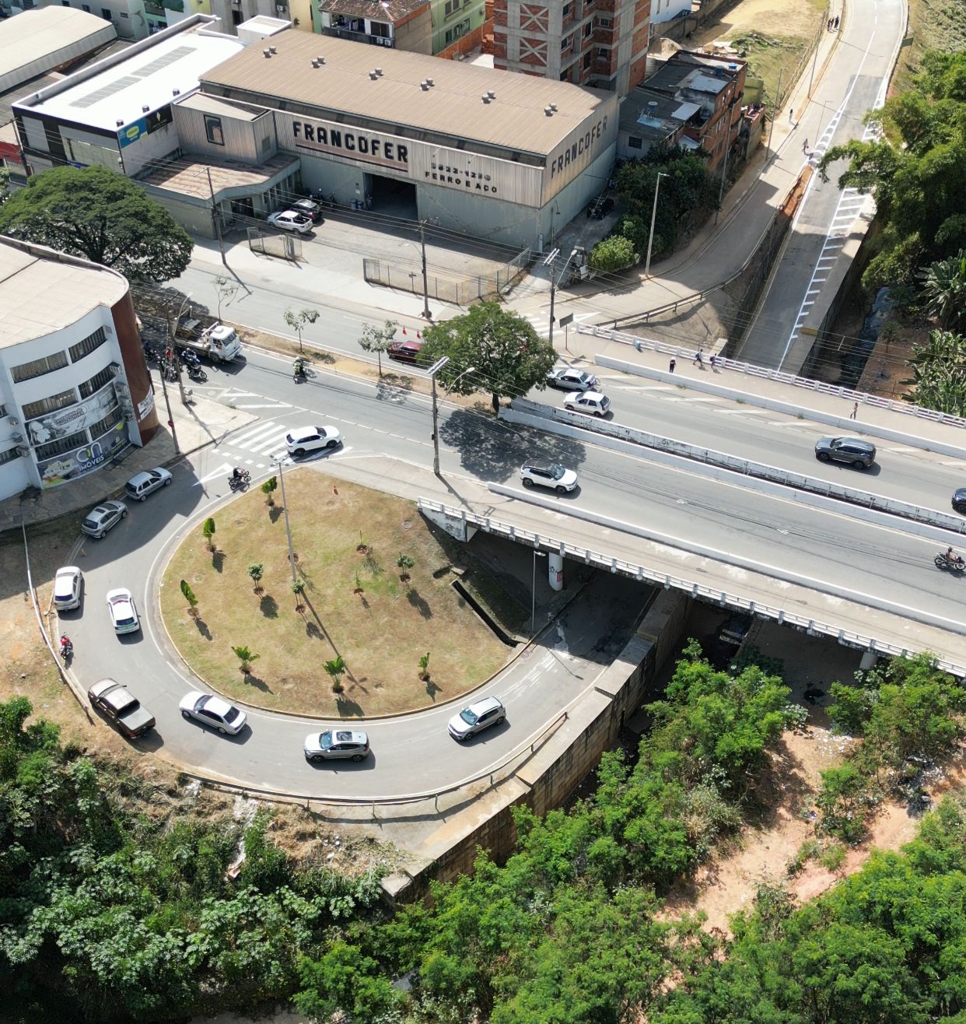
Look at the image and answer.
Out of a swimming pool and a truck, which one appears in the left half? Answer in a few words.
truck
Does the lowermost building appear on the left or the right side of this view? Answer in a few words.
left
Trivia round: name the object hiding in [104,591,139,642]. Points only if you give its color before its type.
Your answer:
white car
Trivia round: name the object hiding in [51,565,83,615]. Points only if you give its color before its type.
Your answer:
white car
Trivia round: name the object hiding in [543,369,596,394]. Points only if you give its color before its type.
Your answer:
gray car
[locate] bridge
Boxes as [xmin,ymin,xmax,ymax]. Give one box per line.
[414,326,966,707]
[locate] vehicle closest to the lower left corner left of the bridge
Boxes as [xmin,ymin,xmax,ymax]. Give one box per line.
[88,679,155,745]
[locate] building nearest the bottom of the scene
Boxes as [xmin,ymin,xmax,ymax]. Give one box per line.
[0,234,160,498]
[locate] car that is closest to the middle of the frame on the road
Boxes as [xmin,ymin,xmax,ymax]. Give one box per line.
[517,459,579,495]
